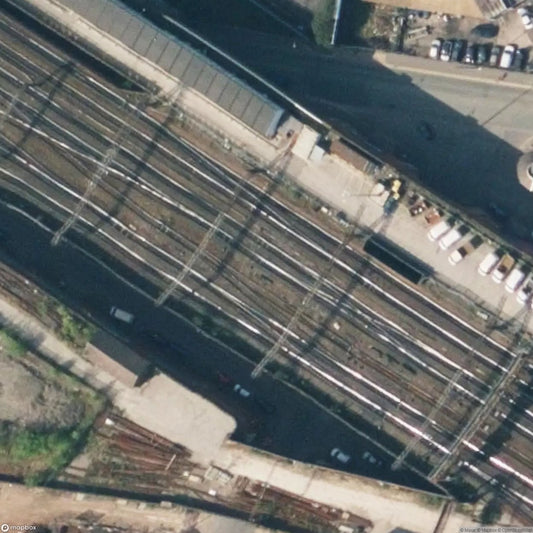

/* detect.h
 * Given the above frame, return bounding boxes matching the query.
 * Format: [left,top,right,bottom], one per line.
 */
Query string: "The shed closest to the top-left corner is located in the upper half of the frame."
[61,0,287,140]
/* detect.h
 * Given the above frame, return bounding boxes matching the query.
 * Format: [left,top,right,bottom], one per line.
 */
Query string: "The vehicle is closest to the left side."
[109,308,134,323]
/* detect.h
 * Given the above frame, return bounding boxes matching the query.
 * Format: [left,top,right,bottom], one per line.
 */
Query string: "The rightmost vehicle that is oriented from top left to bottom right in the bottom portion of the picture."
[362,452,380,466]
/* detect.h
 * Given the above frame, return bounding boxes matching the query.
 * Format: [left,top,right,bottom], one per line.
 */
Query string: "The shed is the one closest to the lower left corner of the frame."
[84,326,152,387]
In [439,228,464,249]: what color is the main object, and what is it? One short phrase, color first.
white vehicle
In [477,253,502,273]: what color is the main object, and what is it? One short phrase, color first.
white vehicle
